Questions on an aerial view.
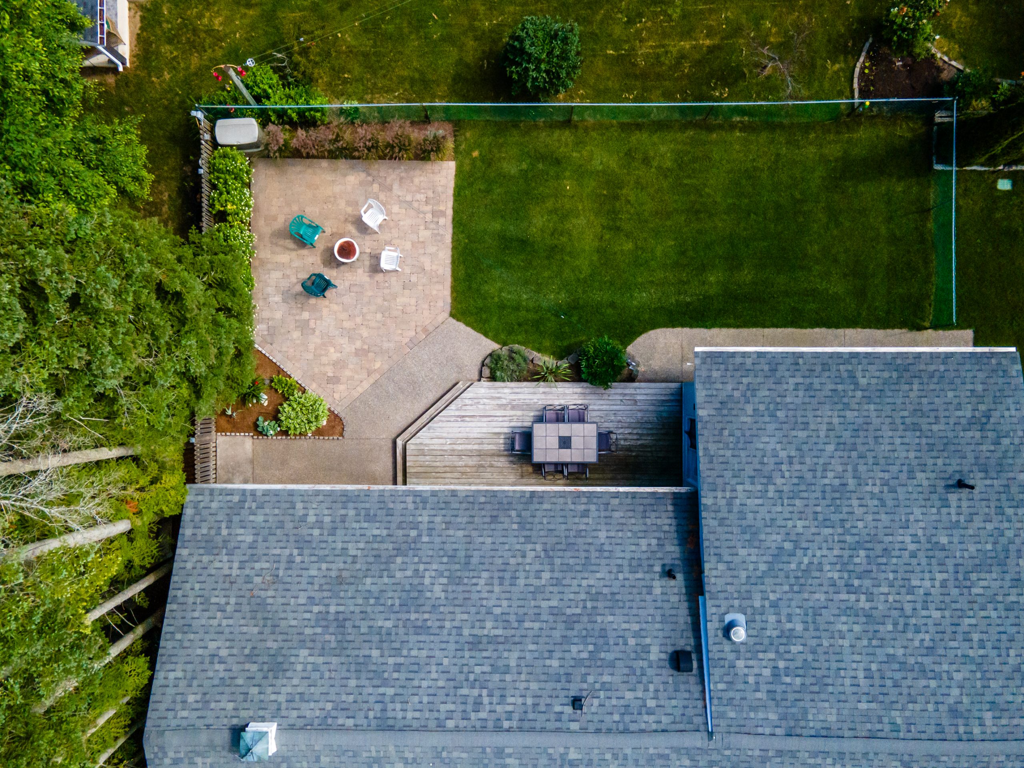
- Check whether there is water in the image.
No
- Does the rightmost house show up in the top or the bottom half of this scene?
bottom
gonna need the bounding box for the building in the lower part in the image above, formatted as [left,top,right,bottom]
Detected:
[144,346,1024,768]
